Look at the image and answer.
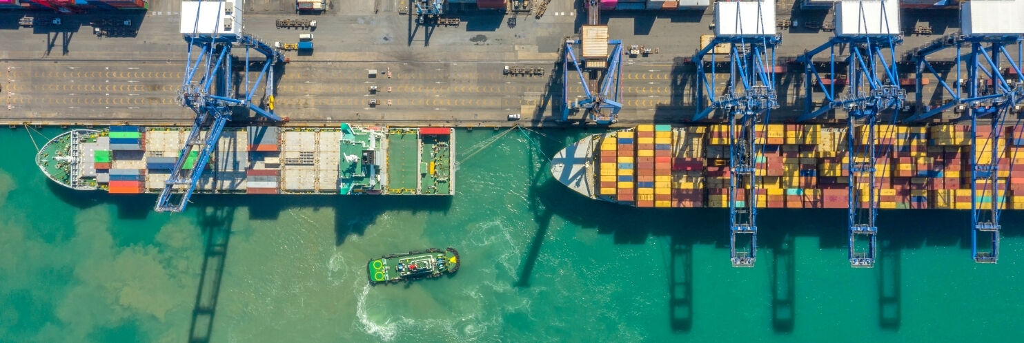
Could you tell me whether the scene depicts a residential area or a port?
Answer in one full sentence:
This image shows a port.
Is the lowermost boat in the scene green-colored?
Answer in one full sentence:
Yes, the lowermost boat appears green.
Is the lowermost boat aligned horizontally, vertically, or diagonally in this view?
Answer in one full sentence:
In this picture, the lowermost boat lies horizontally.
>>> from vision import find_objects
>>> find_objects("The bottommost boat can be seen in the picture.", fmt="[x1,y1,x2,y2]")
[367,249,458,286]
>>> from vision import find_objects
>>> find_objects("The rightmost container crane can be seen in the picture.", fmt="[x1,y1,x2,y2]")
[888,0,1024,266]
